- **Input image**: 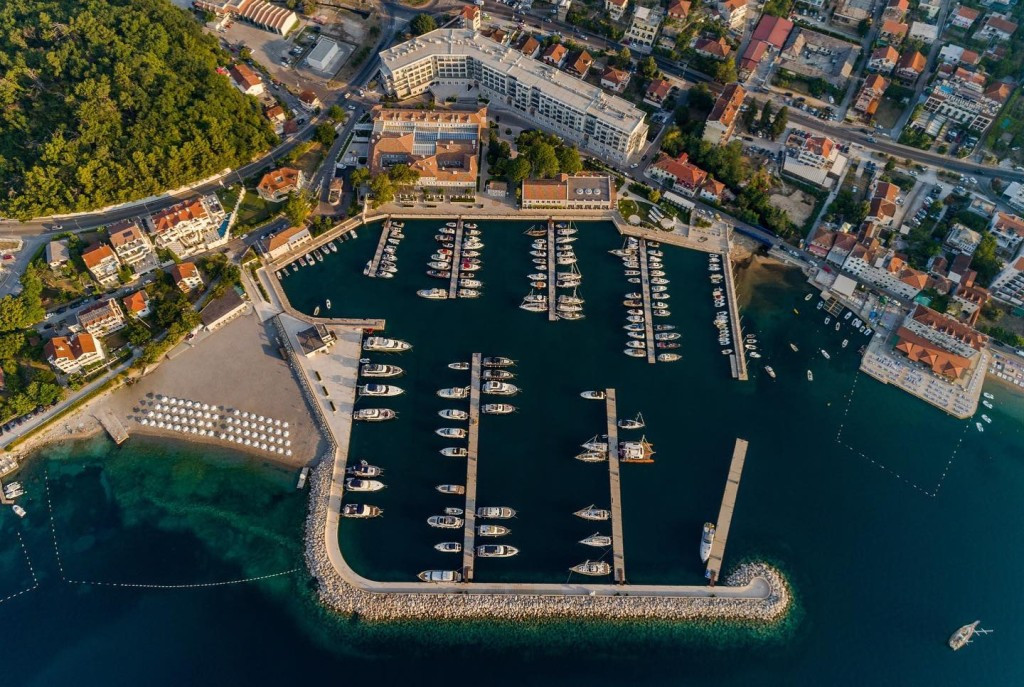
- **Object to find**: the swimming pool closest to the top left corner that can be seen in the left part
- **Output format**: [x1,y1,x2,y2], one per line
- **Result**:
[216,212,230,239]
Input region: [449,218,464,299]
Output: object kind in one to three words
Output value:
pier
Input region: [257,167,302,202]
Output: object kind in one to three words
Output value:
house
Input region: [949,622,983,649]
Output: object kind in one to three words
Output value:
ship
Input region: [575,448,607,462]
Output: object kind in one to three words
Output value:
boat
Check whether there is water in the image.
Yes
